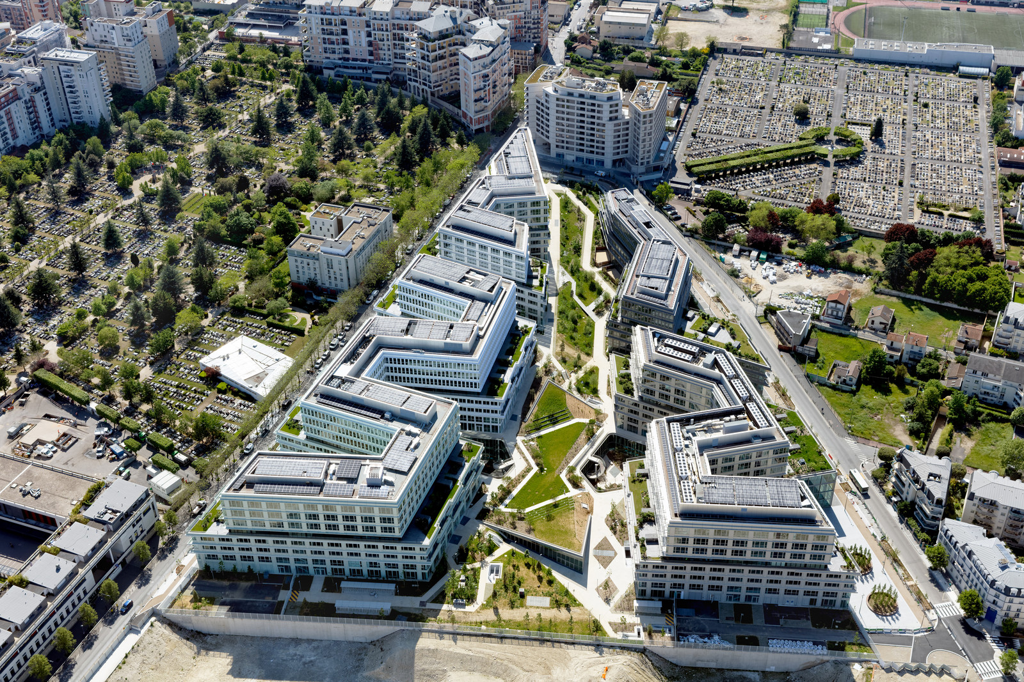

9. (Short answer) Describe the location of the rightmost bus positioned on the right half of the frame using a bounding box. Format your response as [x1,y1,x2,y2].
[850,469,872,501]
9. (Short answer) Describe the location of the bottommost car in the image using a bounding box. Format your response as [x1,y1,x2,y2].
[119,598,134,613]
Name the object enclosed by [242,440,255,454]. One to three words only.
vehicle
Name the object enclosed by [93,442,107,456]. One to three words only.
vehicle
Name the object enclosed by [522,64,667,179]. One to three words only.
house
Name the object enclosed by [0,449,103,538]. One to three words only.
building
